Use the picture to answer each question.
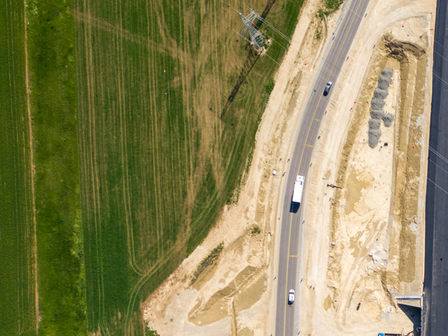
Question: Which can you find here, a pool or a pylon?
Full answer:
The image shows a pylon.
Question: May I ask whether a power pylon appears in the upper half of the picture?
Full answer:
Yes, the scene does show a power pylon in the upper half of the picture.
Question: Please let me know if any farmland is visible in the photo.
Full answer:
Yes, there is farmland in the image.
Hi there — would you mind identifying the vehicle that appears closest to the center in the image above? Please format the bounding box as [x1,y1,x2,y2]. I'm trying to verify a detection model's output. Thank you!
[289,174,303,204]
